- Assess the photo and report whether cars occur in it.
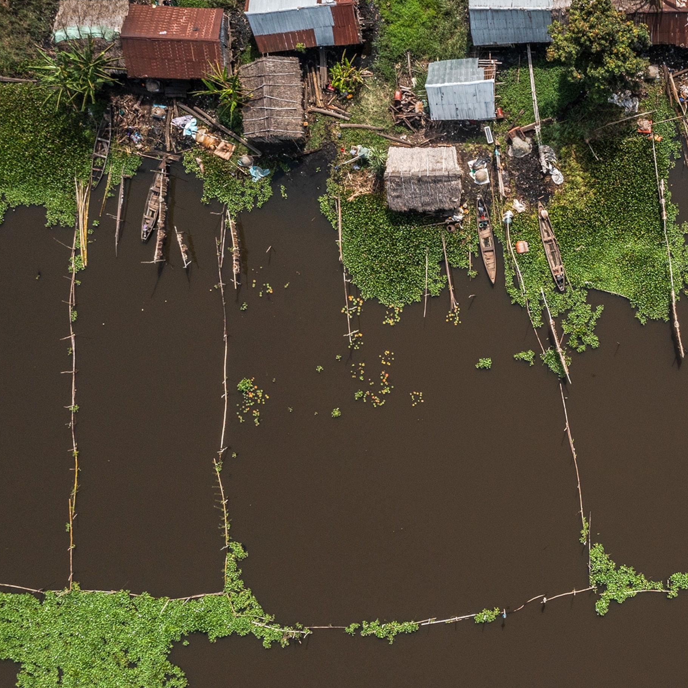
No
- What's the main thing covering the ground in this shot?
water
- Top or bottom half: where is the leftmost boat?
top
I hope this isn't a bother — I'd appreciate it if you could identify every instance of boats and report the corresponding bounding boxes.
[539,201,565,291]
[141,159,165,241]
[476,195,496,284]
[90,104,112,190]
